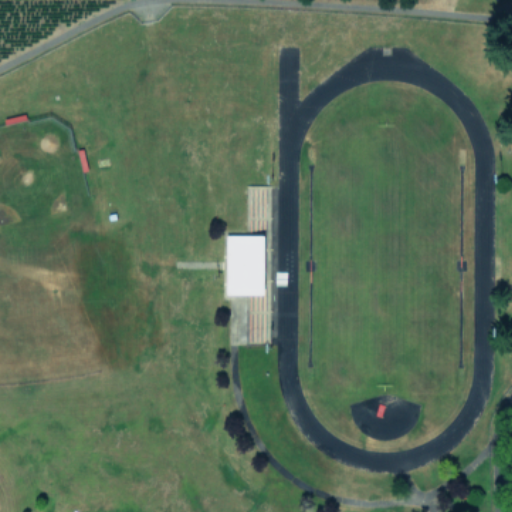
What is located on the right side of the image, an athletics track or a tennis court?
athletics track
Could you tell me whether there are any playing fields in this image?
Yes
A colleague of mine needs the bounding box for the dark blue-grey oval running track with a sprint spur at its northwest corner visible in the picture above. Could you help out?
[278,48,496,472]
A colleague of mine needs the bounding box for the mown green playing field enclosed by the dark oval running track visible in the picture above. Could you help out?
[298,80,475,452]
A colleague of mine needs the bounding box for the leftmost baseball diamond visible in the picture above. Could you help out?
[0,119,117,384]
